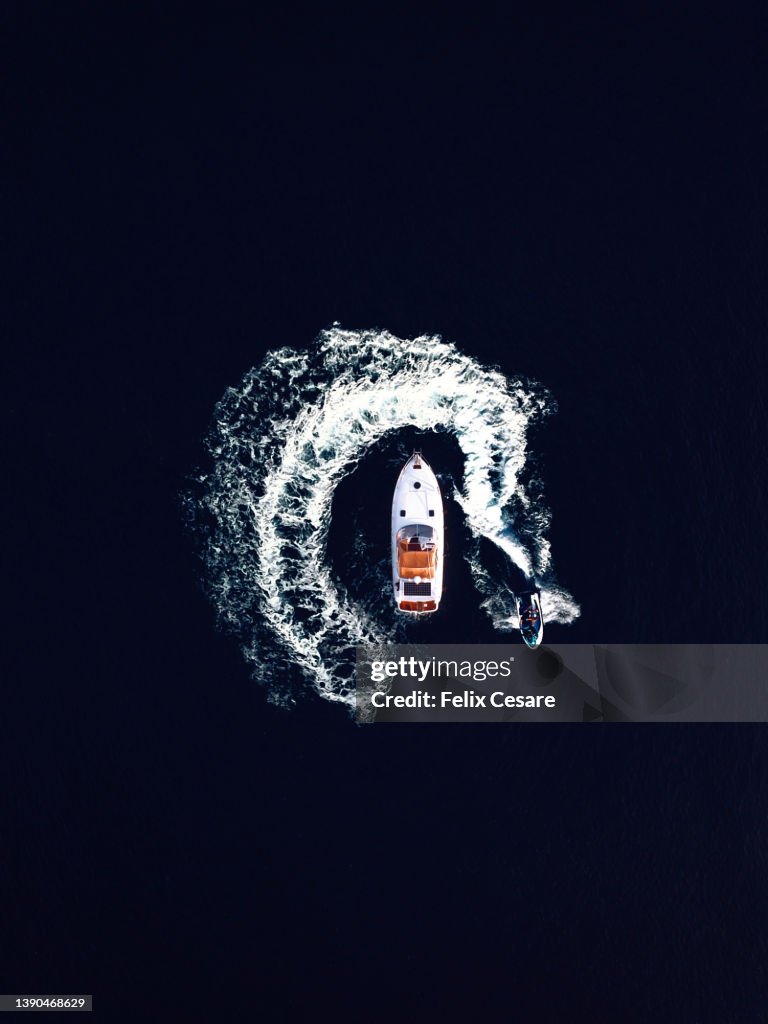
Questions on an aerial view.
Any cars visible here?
No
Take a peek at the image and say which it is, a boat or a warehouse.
boat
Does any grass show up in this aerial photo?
No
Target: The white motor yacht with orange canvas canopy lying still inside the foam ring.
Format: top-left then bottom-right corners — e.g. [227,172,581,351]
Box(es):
[391,447,444,613]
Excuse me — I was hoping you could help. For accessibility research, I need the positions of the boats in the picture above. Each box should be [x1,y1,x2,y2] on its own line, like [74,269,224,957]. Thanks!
[391,447,444,613]
[517,587,542,649]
